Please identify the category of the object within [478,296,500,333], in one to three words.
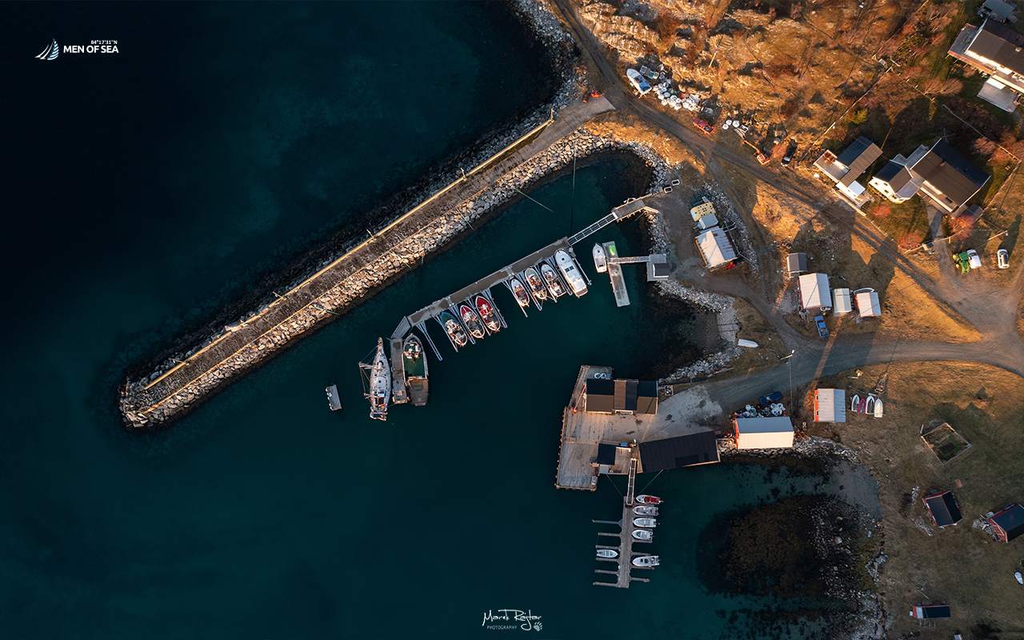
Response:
boat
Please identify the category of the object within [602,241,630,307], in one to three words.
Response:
pier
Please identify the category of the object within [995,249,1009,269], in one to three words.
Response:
car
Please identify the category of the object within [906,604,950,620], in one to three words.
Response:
shed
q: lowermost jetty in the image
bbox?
[591,496,655,590]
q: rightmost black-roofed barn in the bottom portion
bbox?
[980,500,1024,545]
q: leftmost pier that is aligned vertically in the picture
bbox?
[389,339,409,404]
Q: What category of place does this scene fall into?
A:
port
